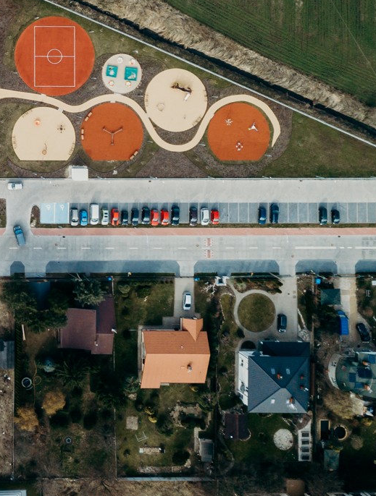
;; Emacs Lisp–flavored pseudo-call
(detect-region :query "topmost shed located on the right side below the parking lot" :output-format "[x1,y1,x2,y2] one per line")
[316,287,341,306]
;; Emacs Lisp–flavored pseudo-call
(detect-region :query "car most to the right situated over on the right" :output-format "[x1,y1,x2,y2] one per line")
[358,323,371,343]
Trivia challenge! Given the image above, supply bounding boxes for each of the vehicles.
[81,210,90,226]
[101,209,111,226]
[72,209,81,225]
[211,210,220,226]
[131,210,140,226]
[172,206,181,225]
[15,227,27,247]
[190,209,200,226]
[278,316,288,332]
[202,209,211,226]
[121,210,131,227]
[332,210,341,226]
[358,323,371,343]
[8,182,24,191]
[142,208,151,225]
[91,204,101,226]
[271,205,281,224]
[112,209,121,226]
[151,210,161,226]
[339,315,353,337]
[183,292,193,311]
[319,208,330,226]
[161,210,170,226]
[258,209,269,225]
